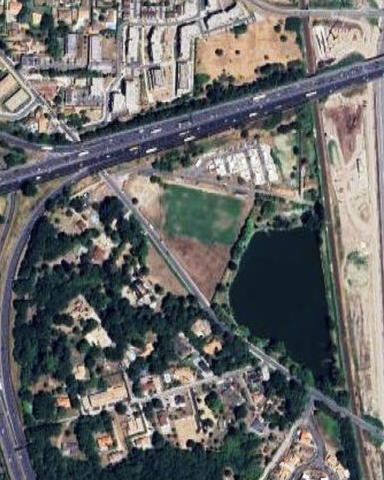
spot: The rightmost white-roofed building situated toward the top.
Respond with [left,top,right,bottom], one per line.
[207,3,253,28]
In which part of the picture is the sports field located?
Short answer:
center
